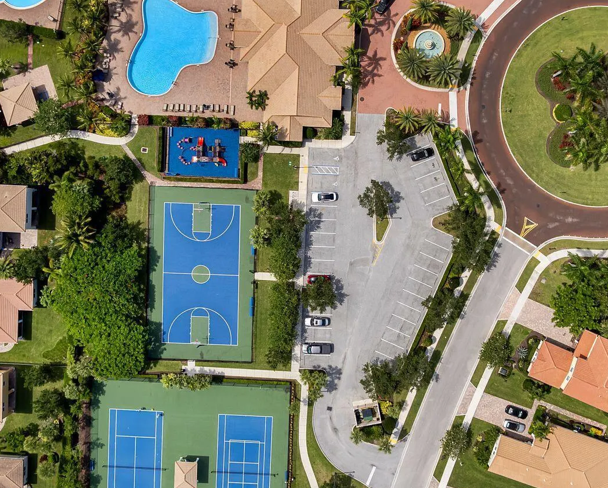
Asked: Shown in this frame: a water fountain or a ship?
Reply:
water fountain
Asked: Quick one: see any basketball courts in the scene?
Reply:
Yes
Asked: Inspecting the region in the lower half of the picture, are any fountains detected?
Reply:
No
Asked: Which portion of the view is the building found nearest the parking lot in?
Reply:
top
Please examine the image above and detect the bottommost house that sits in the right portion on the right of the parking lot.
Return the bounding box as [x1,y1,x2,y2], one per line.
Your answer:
[487,425,608,488]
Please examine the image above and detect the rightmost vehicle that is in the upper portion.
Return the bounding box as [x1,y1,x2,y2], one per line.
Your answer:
[410,146,434,161]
